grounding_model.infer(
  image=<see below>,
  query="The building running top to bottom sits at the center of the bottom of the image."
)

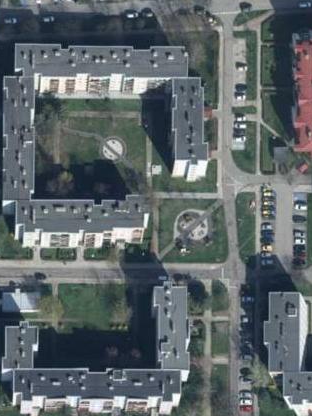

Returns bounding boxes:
[154,281,195,380]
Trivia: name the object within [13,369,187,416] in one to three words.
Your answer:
building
